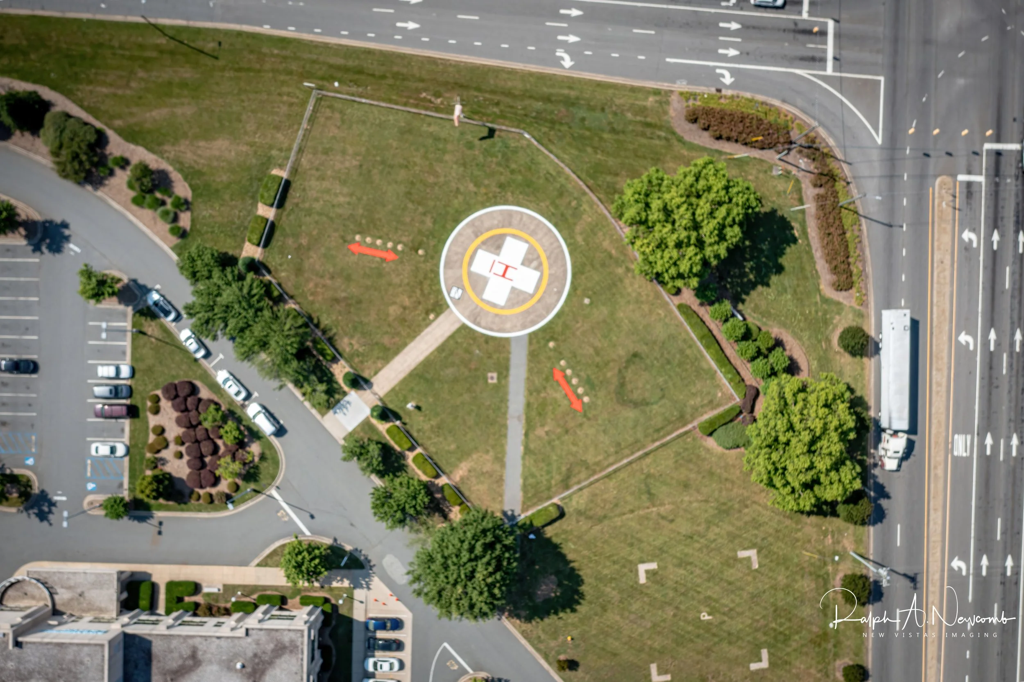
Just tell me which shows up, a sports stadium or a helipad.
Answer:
helipad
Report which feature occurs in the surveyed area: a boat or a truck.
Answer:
truck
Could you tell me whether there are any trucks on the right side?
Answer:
Yes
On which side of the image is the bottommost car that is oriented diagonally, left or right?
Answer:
left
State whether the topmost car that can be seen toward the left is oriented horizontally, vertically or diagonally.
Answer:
diagonally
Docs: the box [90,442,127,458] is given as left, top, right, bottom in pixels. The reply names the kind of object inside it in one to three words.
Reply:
car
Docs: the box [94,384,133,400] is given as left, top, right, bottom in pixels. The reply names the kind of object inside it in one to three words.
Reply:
car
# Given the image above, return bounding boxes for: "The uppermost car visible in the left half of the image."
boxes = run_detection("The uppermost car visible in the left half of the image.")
[151,288,181,324]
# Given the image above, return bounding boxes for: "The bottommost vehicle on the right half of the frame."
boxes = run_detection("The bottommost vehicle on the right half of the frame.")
[877,309,911,472]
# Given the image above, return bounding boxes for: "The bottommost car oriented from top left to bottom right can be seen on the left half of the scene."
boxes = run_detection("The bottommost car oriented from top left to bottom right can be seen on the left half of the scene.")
[248,400,280,438]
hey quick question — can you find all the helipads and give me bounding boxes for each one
[440,205,571,337]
